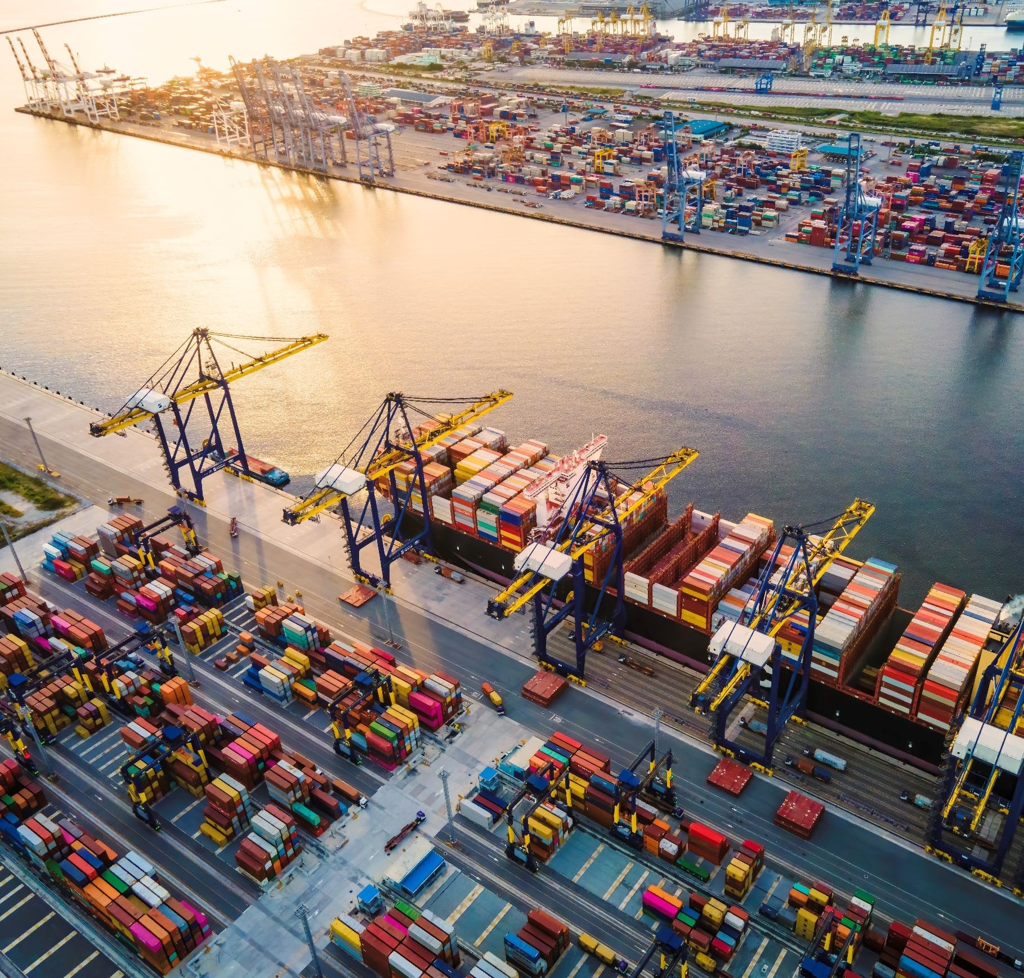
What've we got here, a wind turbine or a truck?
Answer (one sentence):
Looking from above, you can make out a truck.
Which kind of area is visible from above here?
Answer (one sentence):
The picture captures a port.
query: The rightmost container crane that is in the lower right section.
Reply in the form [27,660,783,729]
[922,630,1024,882]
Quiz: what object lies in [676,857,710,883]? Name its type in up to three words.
shipping container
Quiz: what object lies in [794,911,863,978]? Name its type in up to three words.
container crane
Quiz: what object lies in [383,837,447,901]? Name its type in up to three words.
building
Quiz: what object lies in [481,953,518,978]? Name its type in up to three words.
shipping container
